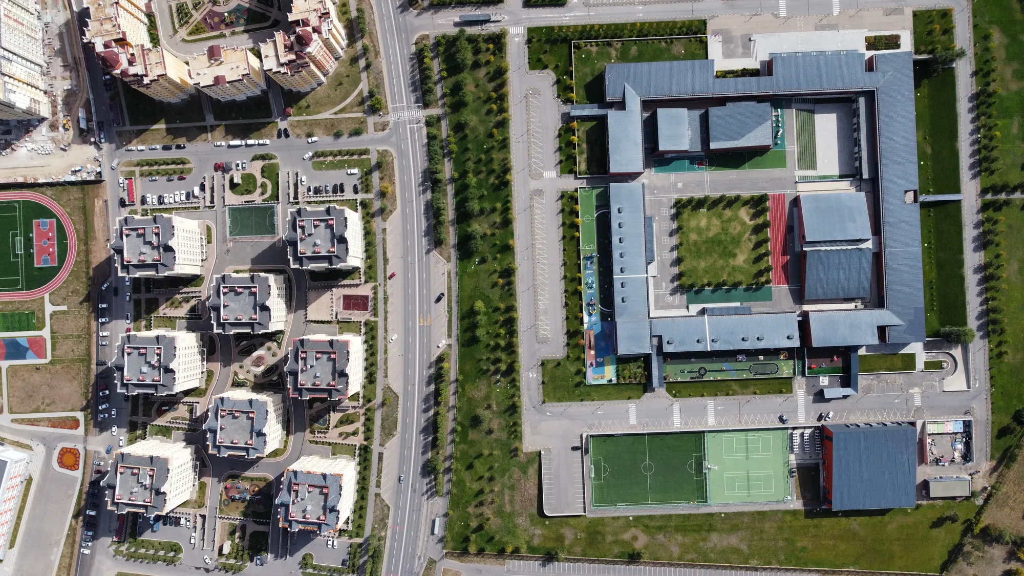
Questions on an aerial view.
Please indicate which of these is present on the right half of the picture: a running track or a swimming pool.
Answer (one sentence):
It is a running track that can be seen on the right half of the picture.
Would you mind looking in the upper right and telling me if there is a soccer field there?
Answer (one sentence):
No, there is no soccer field in the upper right.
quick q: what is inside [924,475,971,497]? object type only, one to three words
shed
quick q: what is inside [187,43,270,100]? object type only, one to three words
building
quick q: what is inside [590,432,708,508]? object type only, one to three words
soccer field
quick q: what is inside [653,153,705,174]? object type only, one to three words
sports court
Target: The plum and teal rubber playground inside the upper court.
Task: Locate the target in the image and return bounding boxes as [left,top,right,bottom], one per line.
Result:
[195,3,263,31]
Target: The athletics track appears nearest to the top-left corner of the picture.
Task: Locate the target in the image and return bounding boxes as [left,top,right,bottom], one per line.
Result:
[0,191,77,300]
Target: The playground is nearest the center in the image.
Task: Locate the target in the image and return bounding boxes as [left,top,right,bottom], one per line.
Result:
[579,185,617,385]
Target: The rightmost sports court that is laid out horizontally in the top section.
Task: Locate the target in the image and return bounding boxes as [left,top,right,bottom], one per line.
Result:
[704,149,786,172]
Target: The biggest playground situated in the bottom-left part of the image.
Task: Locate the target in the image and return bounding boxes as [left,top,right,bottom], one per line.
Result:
[222,478,272,512]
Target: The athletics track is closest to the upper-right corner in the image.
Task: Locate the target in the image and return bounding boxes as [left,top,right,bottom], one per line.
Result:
[770,193,789,286]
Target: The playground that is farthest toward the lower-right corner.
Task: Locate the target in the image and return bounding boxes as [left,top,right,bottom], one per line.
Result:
[807,347,850,375]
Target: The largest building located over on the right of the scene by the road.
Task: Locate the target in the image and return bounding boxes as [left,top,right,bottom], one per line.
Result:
[603,50,926,354]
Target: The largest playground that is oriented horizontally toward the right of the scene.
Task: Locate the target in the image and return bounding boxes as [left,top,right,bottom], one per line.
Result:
[664,347,796,380]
